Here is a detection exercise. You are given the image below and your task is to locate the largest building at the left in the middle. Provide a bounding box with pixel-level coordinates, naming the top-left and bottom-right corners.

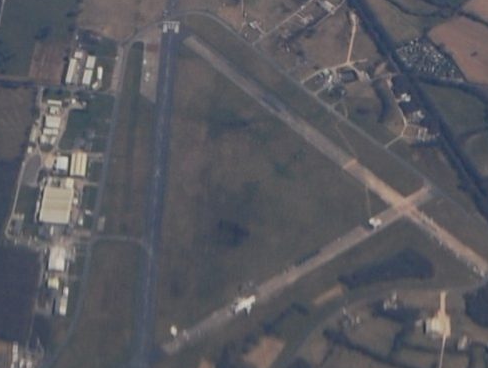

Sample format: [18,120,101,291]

[40,187,75,226]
